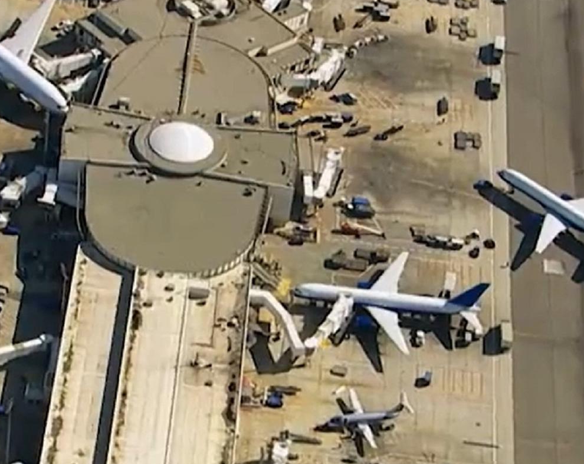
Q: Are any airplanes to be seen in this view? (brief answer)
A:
Yes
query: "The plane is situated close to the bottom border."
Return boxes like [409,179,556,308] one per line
[316,381,419,447]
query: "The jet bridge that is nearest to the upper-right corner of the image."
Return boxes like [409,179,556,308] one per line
[316,43,355,81]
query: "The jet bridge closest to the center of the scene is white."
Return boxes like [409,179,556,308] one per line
[300,144,346,215]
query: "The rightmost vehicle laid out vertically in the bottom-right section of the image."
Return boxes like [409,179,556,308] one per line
[499,327,514,355]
